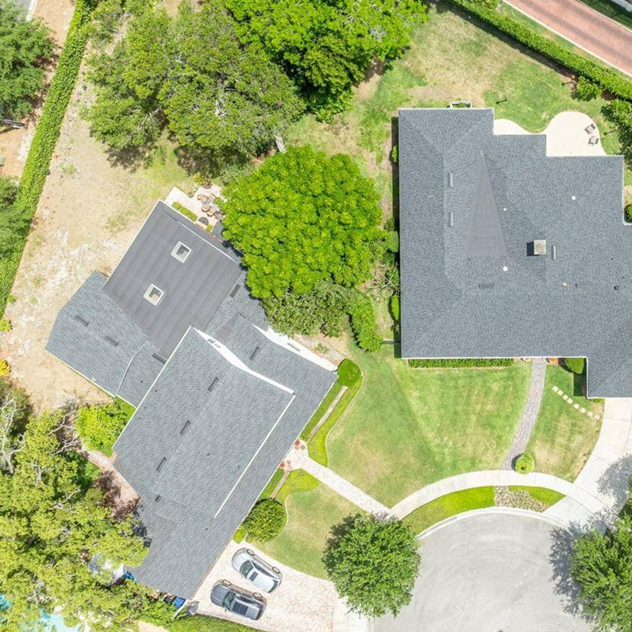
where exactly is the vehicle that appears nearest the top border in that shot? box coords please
[228,548,286,596]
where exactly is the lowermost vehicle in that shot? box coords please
[207,577,270,625]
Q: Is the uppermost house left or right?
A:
right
